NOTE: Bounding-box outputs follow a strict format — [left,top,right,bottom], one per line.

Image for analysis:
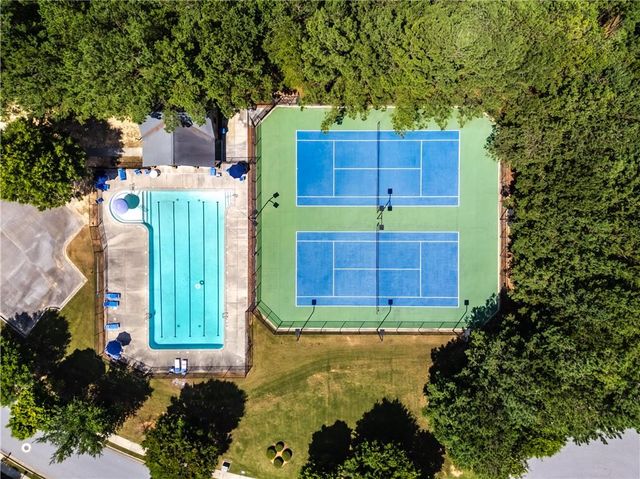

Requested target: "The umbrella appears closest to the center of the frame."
[228,161,248,180]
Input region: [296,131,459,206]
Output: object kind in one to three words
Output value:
tennis court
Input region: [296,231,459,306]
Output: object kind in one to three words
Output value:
tennis court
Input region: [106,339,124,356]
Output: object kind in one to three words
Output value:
umbrella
